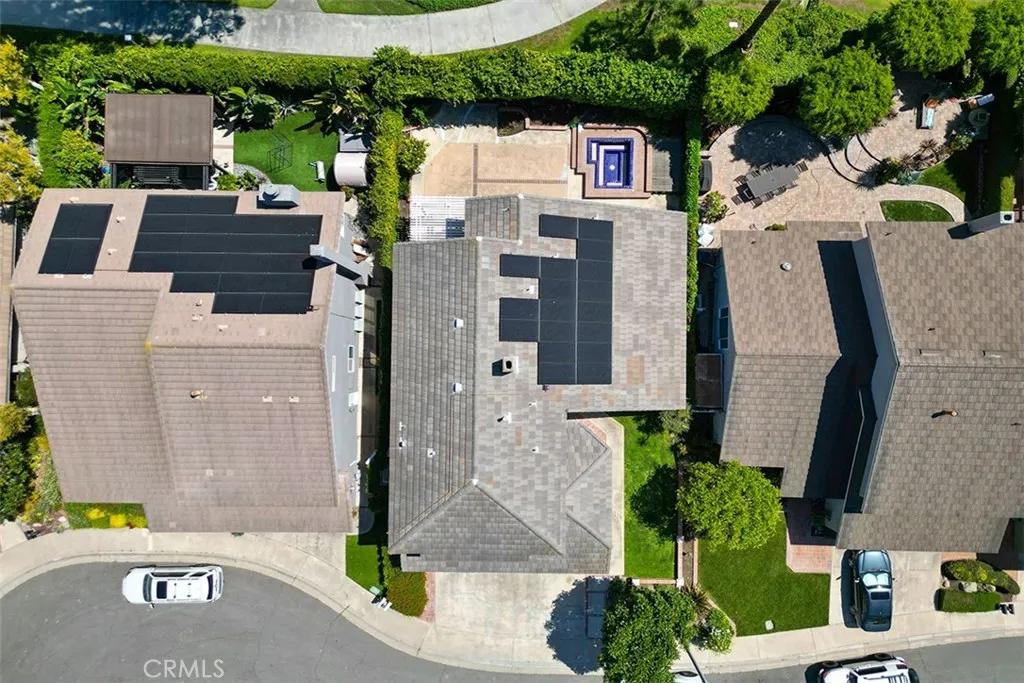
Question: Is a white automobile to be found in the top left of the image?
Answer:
No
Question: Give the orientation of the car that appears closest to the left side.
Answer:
from left to right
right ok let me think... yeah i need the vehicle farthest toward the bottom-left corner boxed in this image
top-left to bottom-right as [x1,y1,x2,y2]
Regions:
[121,559,225,611]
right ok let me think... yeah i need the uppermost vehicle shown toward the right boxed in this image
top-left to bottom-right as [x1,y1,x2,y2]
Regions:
[849,548,899,633]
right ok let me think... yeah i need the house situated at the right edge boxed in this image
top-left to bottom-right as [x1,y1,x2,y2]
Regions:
[712,209,1024,550]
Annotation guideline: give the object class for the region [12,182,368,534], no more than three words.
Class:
house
